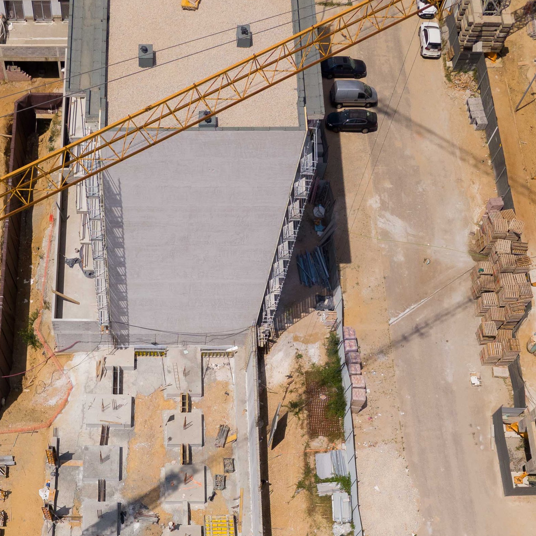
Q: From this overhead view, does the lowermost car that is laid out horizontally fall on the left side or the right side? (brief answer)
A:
right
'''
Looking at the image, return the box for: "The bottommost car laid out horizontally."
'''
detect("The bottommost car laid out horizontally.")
[326,110,378,135]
